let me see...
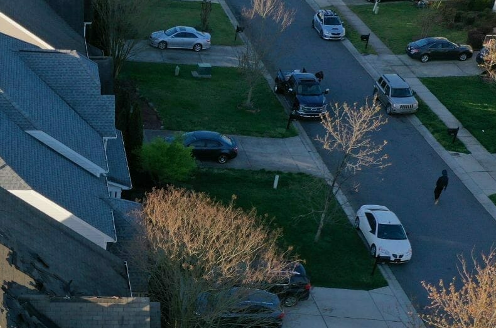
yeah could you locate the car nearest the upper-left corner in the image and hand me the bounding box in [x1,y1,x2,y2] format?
[147,24,211,50]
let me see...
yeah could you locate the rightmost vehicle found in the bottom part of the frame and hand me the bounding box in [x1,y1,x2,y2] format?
[358,203,415,262]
